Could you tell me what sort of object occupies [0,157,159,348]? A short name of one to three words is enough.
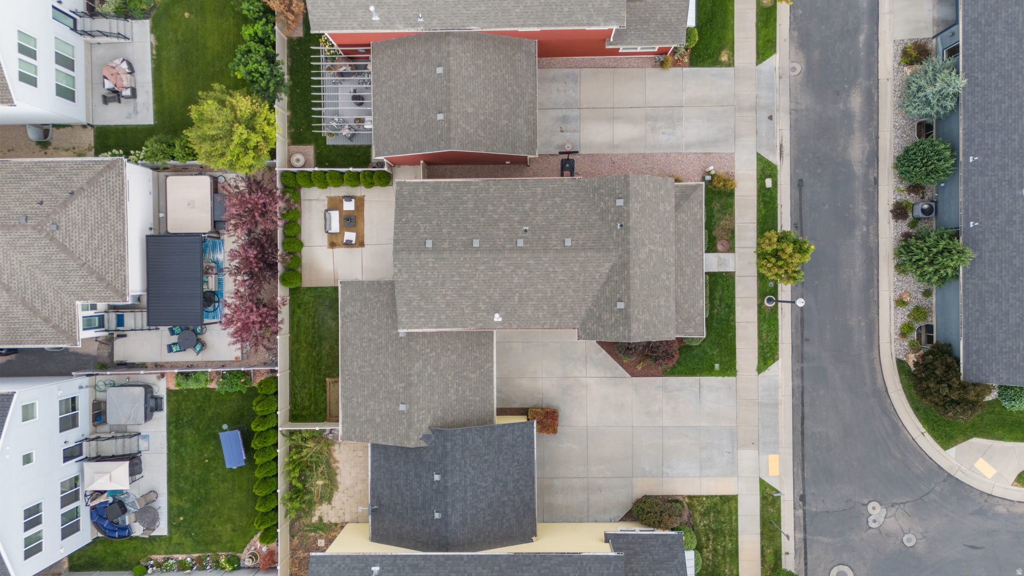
house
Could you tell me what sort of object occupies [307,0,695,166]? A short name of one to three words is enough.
house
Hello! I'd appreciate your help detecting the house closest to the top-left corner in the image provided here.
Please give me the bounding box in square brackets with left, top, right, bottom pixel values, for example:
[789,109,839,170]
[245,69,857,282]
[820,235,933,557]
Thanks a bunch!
[0,0,94,126]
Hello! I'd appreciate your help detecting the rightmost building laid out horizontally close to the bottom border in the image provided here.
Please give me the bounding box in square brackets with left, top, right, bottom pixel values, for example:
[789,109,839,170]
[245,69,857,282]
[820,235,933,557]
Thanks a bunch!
[307,416,694,576]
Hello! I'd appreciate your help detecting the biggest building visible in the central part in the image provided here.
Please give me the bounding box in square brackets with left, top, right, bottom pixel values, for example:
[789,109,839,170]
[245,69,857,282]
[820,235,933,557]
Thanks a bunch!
[337,173,706,448]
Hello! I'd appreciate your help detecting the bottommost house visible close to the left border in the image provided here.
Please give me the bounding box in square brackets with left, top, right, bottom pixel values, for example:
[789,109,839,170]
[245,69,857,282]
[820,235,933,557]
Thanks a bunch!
[0,376,96,576]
